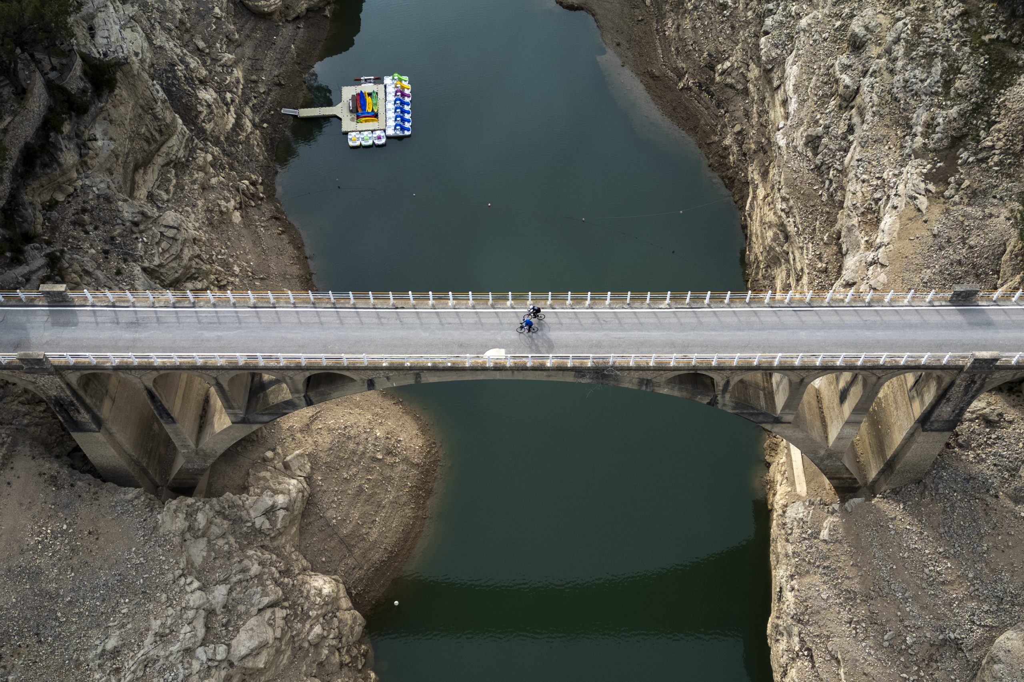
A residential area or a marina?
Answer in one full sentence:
This image shows a marina.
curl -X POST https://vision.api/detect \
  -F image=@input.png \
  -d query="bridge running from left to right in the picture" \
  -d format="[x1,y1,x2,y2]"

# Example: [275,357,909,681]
[0,282,1024,504]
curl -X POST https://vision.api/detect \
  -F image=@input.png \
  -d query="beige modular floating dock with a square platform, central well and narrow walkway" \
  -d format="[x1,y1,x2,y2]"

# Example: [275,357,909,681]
[298,84,386,133]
